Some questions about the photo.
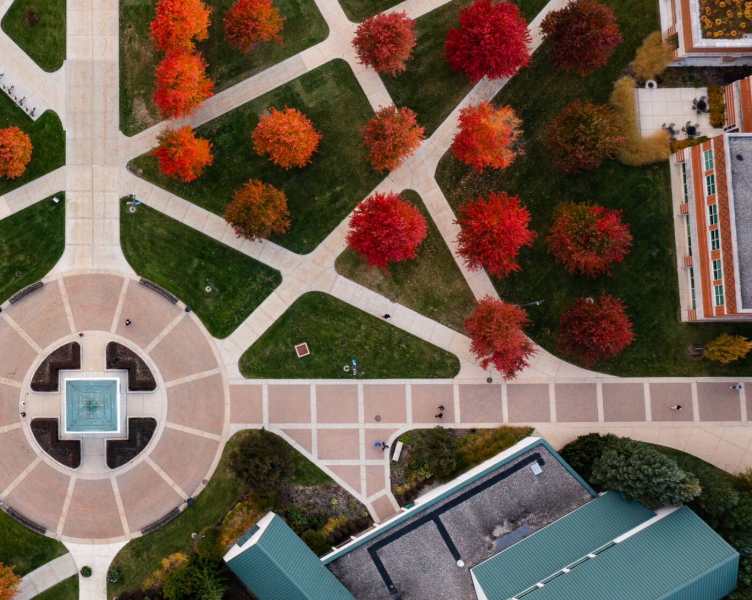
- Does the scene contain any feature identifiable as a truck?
No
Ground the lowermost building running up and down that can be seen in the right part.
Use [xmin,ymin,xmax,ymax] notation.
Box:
[670,129,752,321]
